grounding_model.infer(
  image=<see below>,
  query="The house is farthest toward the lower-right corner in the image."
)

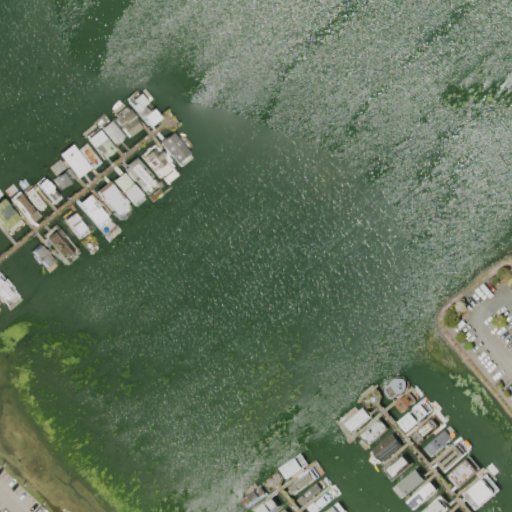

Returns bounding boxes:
[462,467,502,512]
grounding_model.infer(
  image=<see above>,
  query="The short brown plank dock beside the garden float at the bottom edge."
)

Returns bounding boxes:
[258,468,332,512]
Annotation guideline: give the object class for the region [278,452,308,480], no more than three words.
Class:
house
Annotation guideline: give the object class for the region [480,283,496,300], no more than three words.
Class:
vehicle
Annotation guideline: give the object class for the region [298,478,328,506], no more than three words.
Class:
house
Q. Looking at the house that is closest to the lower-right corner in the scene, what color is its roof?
white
